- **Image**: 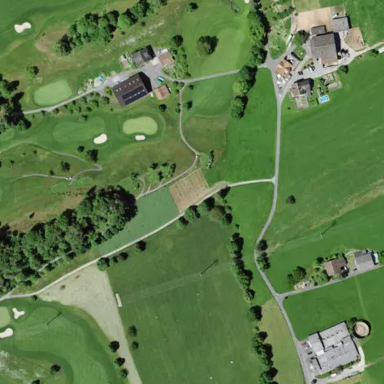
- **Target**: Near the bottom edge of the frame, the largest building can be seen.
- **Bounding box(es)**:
[307,322,360,374]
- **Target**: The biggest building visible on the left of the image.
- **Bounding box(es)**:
[112,73,149,107]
